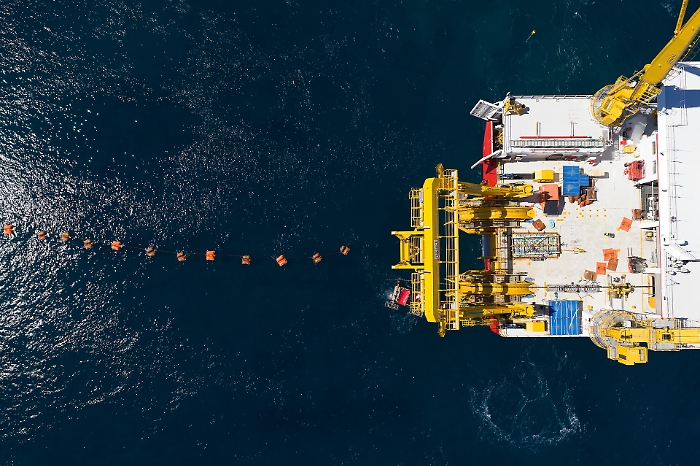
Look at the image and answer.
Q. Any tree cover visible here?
No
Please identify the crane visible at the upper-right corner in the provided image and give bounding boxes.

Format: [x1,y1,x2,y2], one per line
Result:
[587,0,700,128]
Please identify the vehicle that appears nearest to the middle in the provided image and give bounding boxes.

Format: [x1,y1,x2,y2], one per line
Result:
[385,277,414,310]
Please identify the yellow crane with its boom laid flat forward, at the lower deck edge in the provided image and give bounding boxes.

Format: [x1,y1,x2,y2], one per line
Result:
[589,310,700,364]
